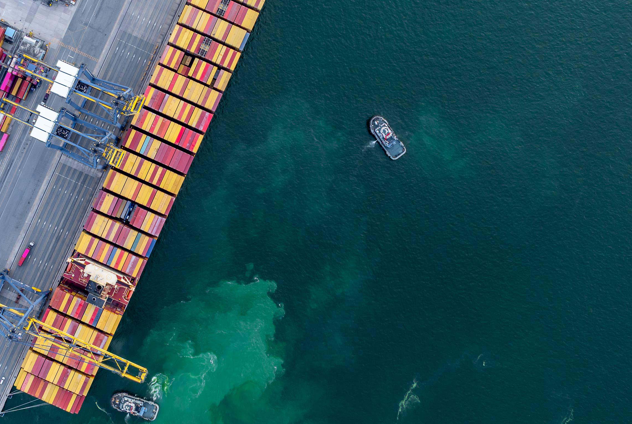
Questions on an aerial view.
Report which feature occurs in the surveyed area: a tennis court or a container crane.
container crane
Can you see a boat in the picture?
Yes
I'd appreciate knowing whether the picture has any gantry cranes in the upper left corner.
Yes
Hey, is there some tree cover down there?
No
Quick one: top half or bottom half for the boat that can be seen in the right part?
top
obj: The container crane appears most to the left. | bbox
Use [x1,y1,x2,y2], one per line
[0,57,47,93]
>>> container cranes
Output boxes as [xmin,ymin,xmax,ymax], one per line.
[0,57,47,93]
[0,271,149,385]
[10,51,145,135]
[0,95,121,175]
